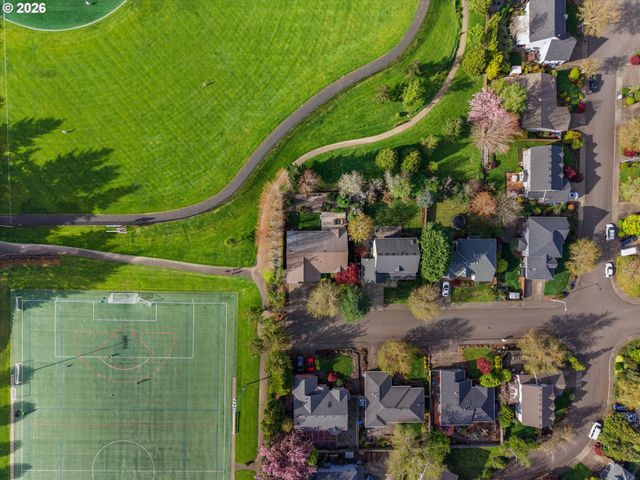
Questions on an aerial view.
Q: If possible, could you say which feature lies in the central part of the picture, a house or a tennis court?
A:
house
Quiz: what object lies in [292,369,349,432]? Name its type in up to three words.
house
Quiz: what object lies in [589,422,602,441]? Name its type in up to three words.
vehicle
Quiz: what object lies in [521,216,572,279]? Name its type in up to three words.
house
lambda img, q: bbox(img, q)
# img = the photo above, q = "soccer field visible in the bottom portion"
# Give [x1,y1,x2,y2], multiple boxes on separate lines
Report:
[8,290,238,480]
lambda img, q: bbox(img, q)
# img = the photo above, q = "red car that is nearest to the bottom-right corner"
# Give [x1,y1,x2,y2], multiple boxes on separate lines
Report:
[592,442,604,458]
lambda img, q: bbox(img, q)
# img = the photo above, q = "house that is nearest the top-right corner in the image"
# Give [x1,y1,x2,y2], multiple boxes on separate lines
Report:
[521,0,578,66]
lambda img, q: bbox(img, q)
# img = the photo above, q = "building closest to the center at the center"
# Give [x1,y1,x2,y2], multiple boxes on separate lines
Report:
[286,211,349,284]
